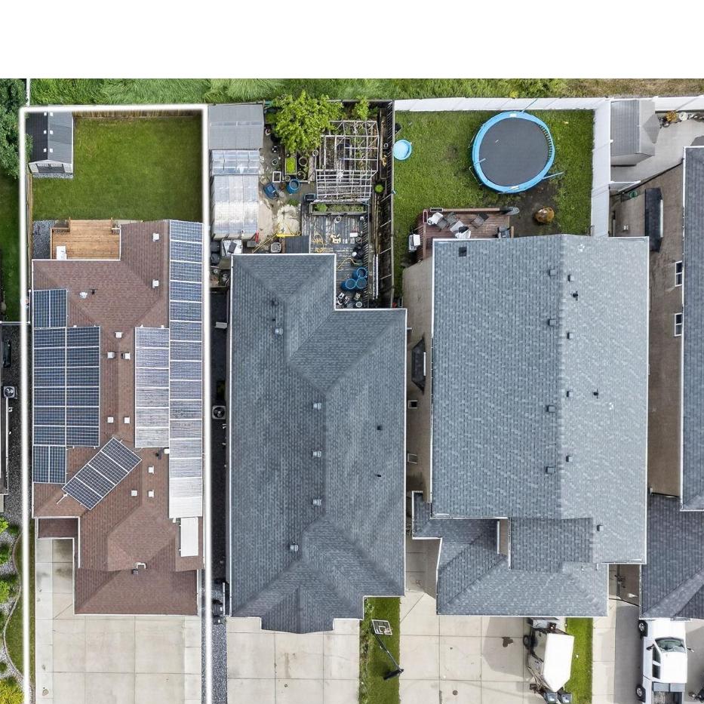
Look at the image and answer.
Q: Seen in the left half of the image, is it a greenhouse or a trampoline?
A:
greenhouse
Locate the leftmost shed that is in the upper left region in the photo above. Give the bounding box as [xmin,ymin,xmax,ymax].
[27,108,73,175]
